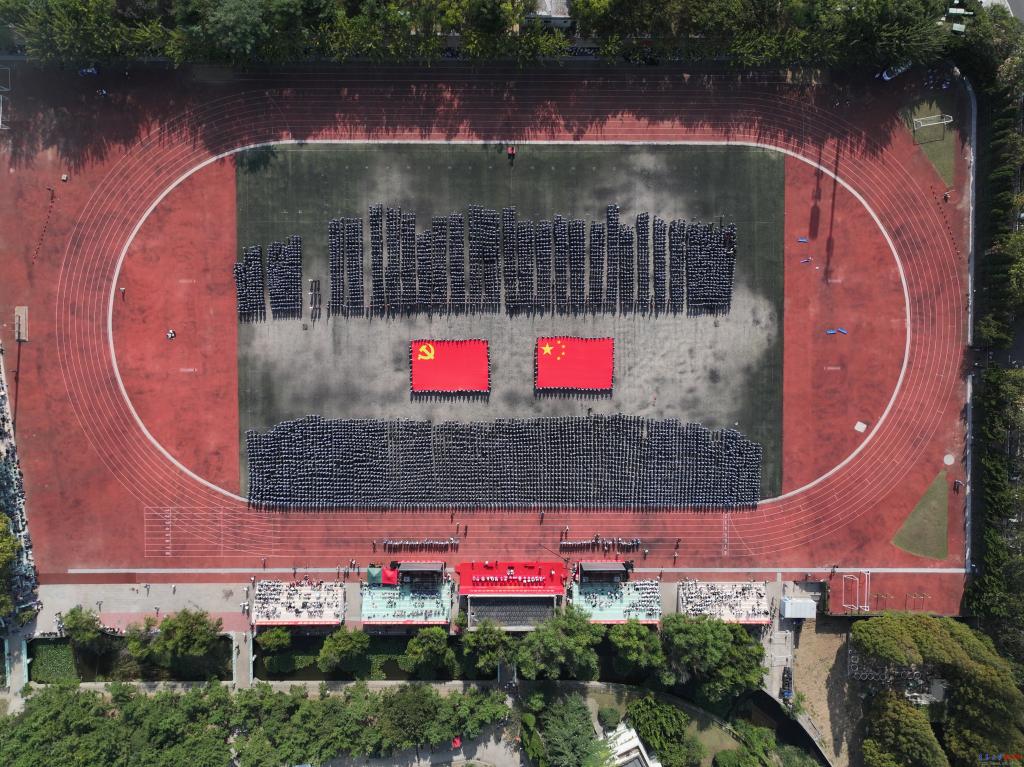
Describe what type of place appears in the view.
sports ground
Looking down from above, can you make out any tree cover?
Yes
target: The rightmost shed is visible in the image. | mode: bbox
[920,672,946,701]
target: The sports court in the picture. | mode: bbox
[829,574,966,617]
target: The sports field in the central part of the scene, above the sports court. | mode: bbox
[111,144,907,504]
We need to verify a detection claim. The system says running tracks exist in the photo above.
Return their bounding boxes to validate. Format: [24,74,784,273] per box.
[58,81,961,558]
